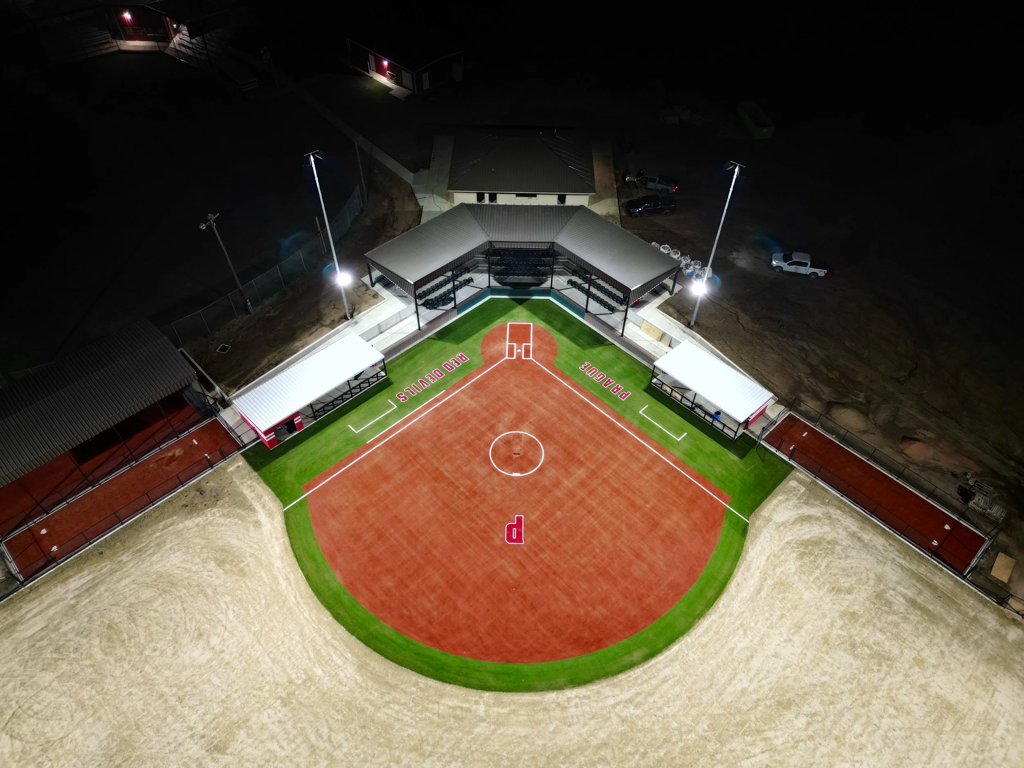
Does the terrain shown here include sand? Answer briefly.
Yes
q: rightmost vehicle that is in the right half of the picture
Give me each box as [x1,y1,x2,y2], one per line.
[769,251,828,279]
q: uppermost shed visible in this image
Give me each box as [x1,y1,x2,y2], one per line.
[344,19,464,94]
